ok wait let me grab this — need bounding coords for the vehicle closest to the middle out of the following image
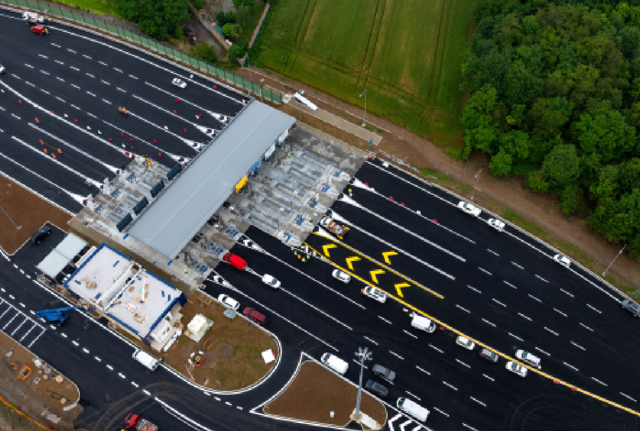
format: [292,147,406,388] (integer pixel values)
[313,209,351,240]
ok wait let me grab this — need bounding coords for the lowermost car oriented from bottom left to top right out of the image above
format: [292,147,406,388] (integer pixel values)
[30,225,52,243]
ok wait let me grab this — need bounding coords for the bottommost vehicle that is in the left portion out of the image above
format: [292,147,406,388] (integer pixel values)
[118,404,166,431]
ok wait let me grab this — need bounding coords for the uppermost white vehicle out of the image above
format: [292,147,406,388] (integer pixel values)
[19,12,45,25]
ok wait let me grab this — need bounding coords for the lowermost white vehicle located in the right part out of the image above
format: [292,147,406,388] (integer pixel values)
[396,396,431,422]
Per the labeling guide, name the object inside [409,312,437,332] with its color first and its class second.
white vehicle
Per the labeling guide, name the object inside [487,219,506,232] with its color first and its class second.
white vehicle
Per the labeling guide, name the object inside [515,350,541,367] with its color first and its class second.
white car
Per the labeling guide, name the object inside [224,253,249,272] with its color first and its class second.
red vehicle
